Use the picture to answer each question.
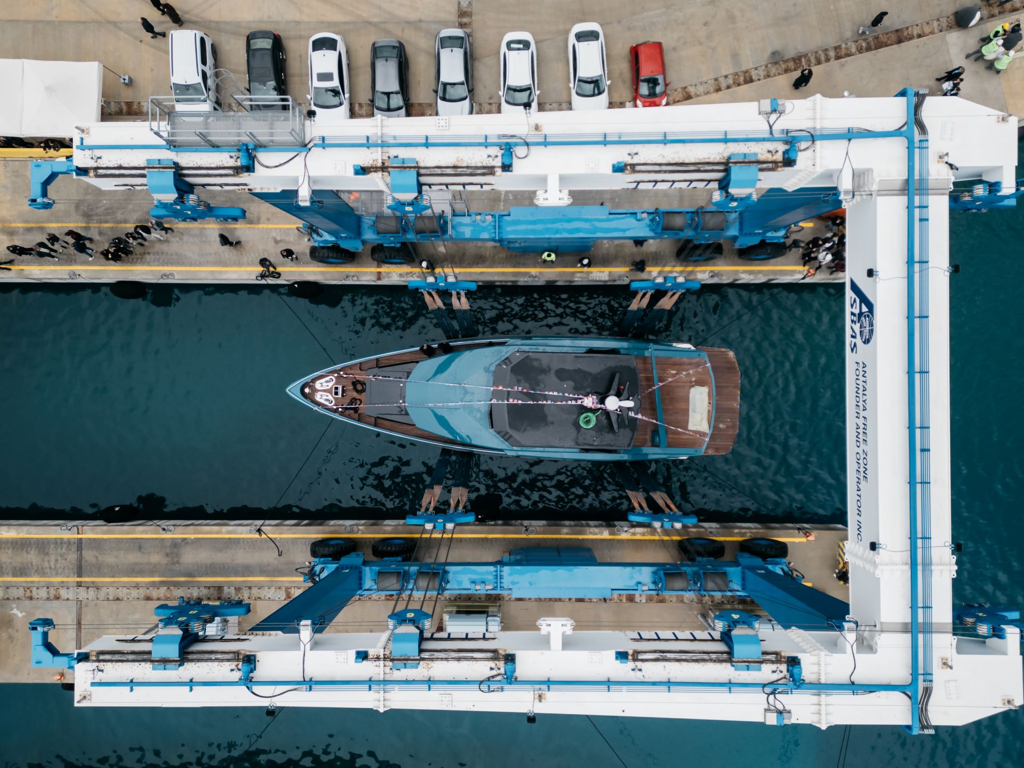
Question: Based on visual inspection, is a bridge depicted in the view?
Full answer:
No, there is no bridge in the image.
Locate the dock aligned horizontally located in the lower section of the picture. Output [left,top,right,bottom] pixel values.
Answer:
[0,518,850,680]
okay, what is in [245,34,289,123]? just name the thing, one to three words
car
